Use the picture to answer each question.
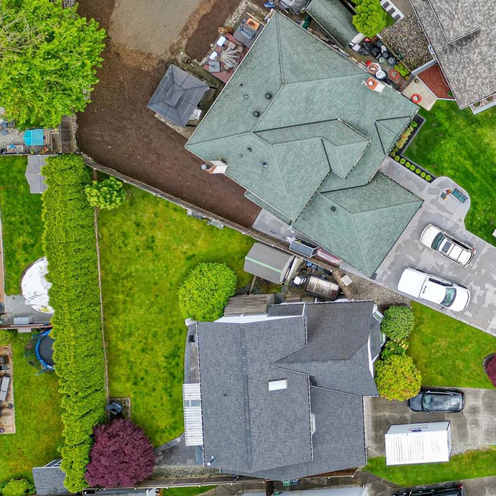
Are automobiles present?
Yes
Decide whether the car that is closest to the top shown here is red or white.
white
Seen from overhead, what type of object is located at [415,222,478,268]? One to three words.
car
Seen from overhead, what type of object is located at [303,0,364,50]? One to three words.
shed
